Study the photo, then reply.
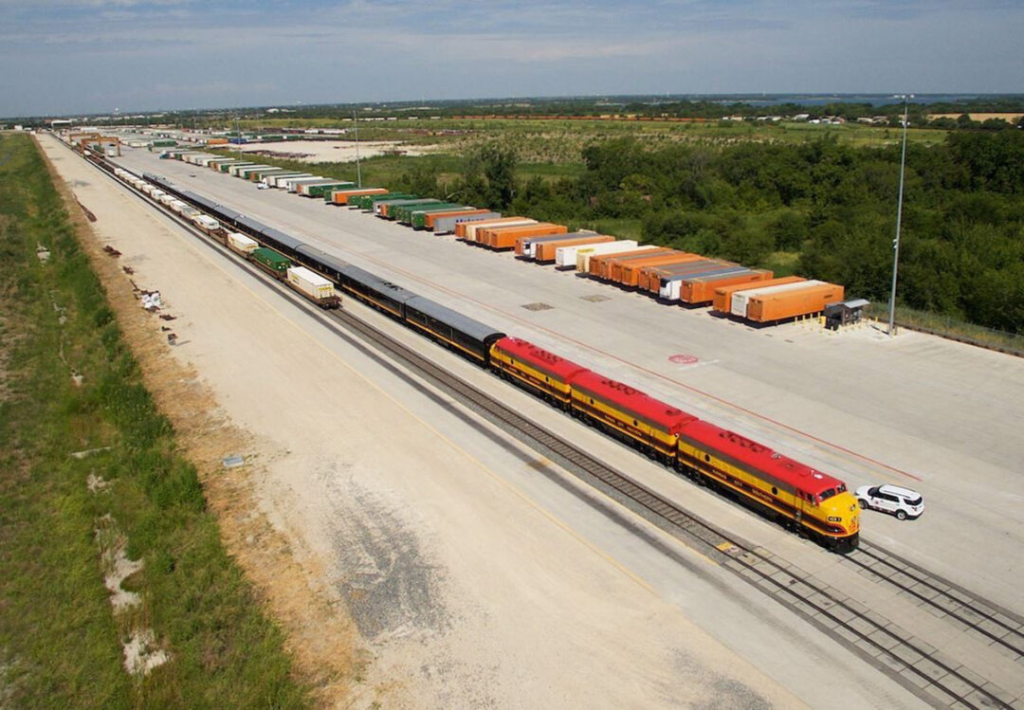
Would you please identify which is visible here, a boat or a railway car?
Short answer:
railway car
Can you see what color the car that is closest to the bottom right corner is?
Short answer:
white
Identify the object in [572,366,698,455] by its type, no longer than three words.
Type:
rail car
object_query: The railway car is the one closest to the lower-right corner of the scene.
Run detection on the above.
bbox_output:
[676,414,858,545]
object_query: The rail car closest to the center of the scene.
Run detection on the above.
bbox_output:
[499,335,591,402]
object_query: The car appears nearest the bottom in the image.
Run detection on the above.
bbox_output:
[856,487,926,522]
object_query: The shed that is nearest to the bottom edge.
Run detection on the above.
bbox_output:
[821,297,873,331]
